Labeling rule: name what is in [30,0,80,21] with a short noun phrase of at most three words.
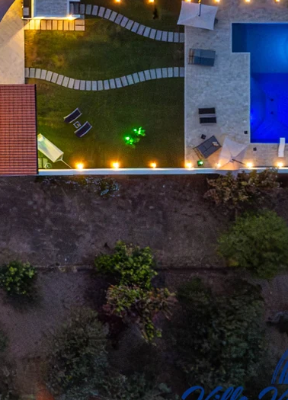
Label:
shed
